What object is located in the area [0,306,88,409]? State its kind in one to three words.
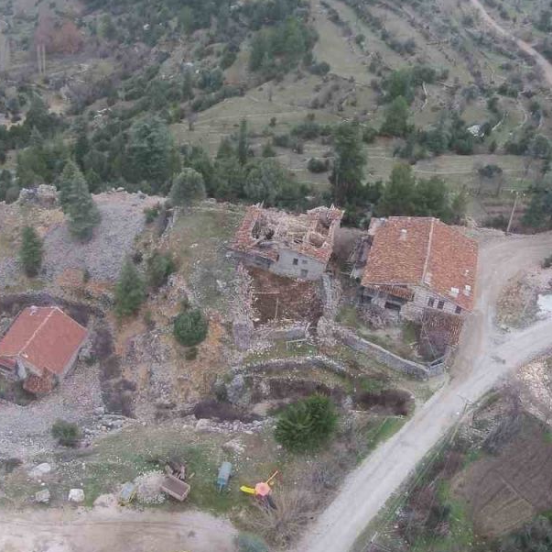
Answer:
house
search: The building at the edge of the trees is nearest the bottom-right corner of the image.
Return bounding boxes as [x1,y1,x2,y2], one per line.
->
[360,216,479,350]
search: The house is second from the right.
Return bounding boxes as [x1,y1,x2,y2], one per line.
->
[232,205,342,287]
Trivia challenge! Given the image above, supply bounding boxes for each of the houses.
[0,306,88,409]
[360,216,479,350]
[232,205,342,287]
